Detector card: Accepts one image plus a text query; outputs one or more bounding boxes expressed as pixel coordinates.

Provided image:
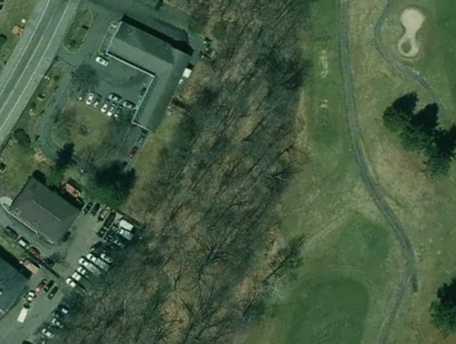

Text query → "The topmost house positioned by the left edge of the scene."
[9,176,82,243]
